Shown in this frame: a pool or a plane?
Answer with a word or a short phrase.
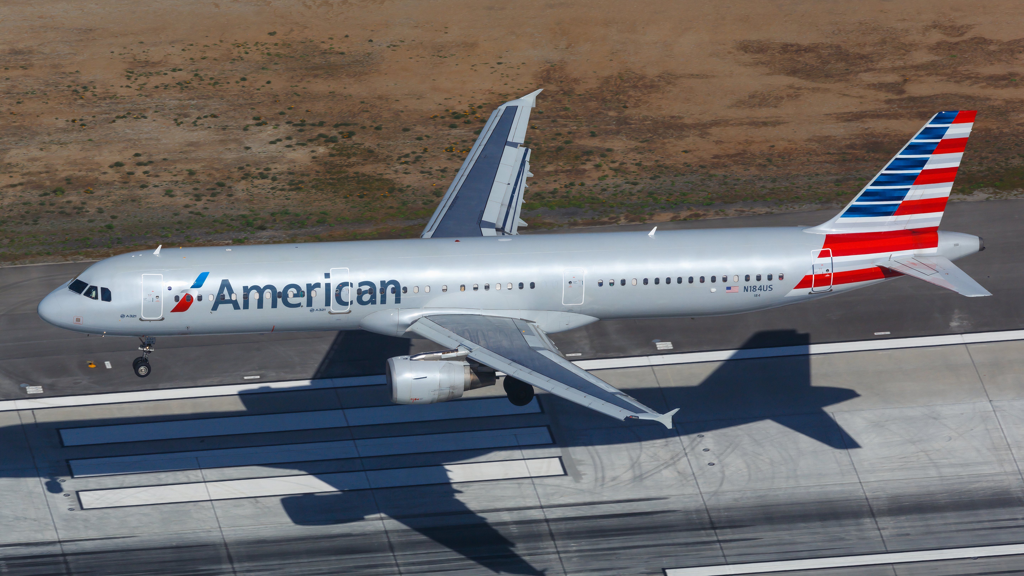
plane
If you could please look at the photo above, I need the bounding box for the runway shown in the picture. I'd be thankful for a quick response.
[0,329,1024,576]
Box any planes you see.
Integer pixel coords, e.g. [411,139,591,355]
[36,88,992,429]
